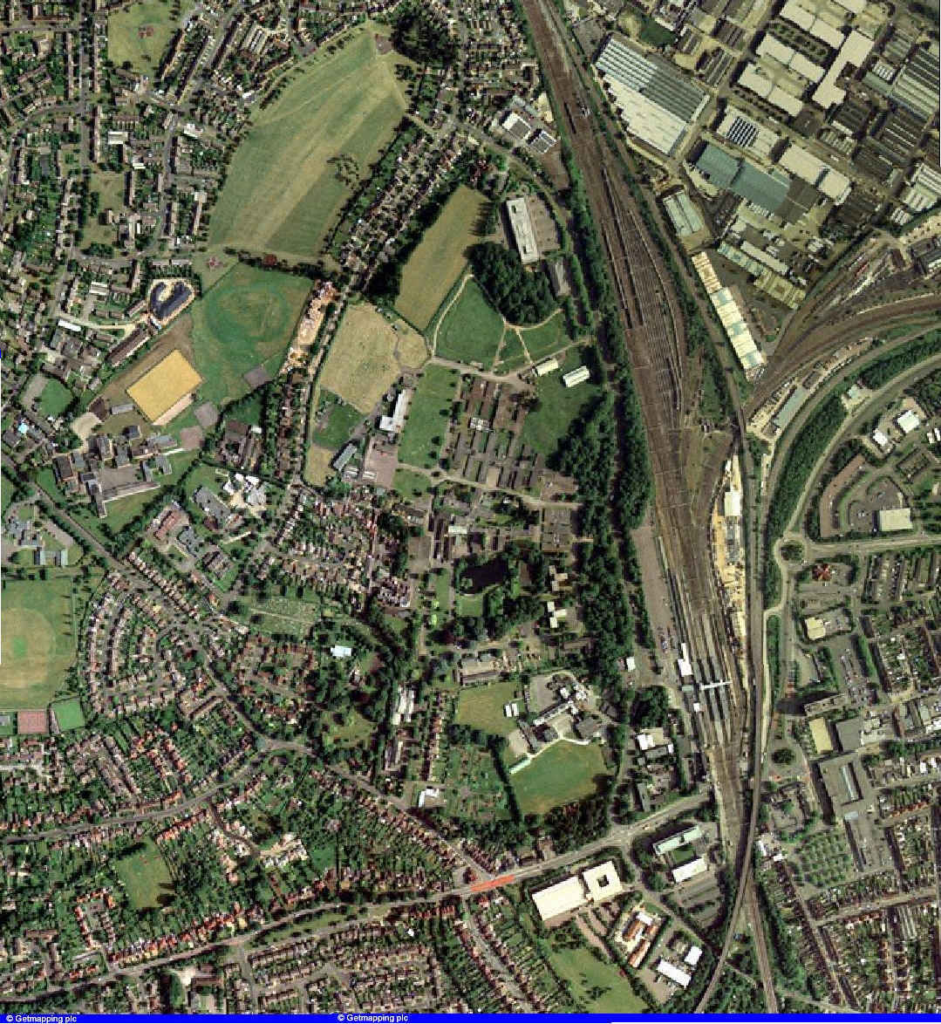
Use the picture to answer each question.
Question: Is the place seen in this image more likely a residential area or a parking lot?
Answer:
residential area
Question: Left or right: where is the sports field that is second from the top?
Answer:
left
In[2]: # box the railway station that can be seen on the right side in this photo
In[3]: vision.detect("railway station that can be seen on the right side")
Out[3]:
[678,603,733,752]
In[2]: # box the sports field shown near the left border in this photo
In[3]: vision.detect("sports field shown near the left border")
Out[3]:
[0,580,78,707]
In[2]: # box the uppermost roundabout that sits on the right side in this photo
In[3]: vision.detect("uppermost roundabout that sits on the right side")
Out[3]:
[776,535,808,566]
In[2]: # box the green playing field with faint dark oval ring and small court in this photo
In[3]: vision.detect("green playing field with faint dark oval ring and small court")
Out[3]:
[194,265,311,406]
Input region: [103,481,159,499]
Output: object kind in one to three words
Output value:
building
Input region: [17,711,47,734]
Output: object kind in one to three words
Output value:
tennis court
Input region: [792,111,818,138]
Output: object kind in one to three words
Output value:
shed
